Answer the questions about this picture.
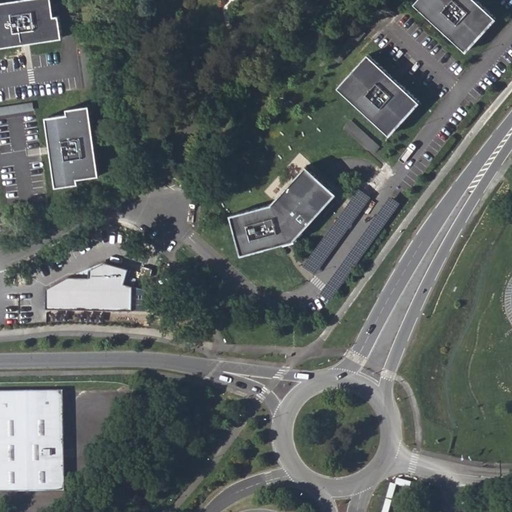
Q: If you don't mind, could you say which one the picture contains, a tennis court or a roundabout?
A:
roundabout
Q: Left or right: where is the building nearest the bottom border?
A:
left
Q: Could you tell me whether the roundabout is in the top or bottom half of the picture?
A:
bottom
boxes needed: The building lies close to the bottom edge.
[0,389,65,492]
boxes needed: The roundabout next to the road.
[272,370,401,499]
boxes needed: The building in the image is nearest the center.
[228,169,335,258]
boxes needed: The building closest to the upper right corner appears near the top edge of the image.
[412,0,494,54]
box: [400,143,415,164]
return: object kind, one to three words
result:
vehicle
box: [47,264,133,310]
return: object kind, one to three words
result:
building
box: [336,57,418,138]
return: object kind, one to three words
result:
building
